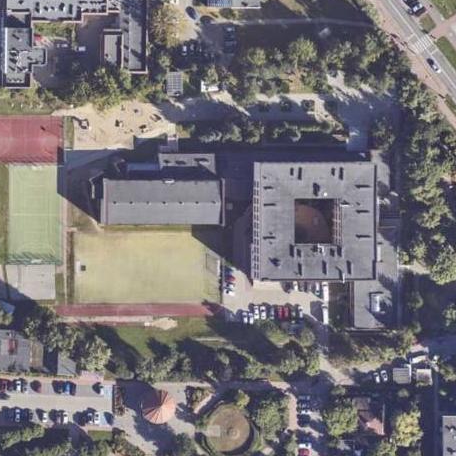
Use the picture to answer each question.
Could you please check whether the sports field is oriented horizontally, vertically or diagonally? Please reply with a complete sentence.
The sports field runs horizontally in the image.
